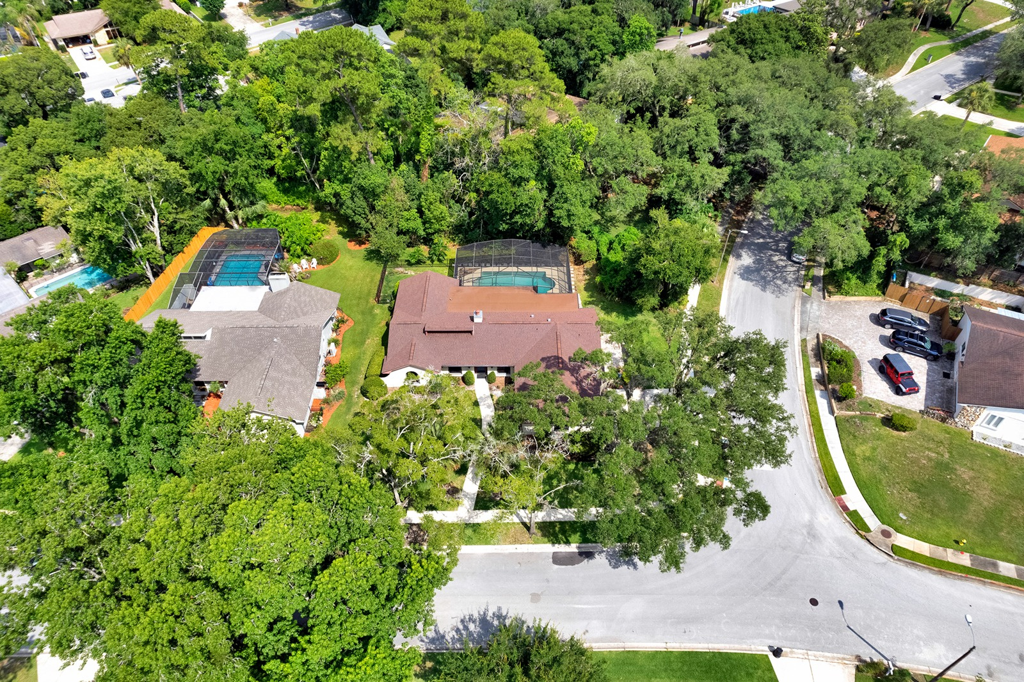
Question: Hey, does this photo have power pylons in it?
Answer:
No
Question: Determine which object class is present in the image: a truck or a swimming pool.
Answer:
swimming pool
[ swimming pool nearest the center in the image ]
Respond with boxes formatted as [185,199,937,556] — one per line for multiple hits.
[470,270,560,292]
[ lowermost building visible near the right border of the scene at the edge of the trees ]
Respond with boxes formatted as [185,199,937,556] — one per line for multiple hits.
[953,284,1024,447]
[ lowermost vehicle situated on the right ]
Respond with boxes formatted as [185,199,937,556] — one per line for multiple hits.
[880,352,925,397]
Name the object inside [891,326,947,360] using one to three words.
car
